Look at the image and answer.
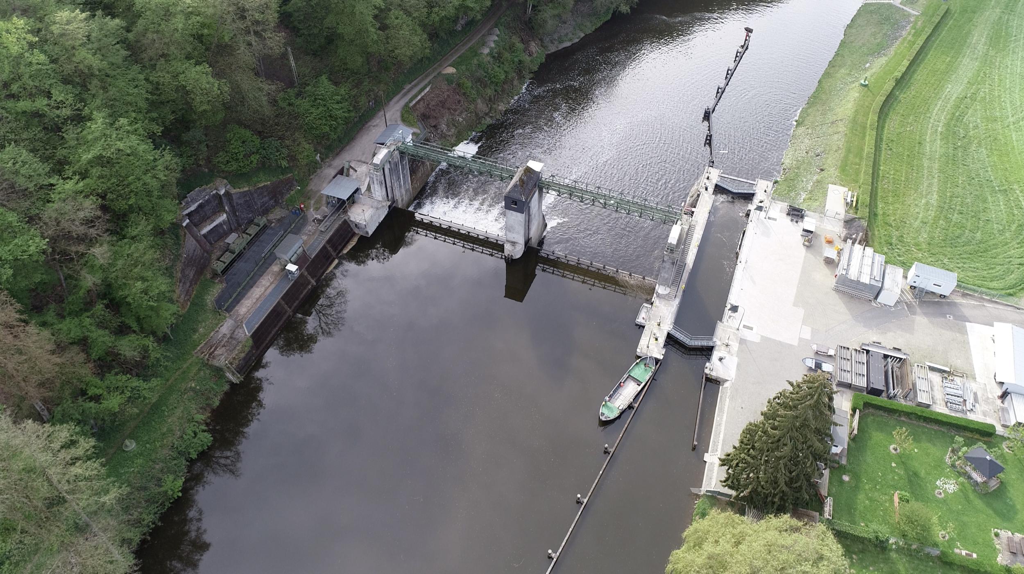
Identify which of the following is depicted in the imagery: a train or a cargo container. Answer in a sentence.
I can see a cargo container in this picture.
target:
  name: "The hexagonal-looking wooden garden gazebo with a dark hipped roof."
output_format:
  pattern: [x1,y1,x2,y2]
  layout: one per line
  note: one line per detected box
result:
[958,448,1005,491]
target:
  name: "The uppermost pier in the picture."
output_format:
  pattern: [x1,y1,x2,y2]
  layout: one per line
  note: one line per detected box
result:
[699,37,751,168]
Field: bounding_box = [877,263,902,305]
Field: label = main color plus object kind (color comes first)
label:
white shipping container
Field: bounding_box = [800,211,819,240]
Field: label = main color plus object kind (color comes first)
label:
white vehicle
